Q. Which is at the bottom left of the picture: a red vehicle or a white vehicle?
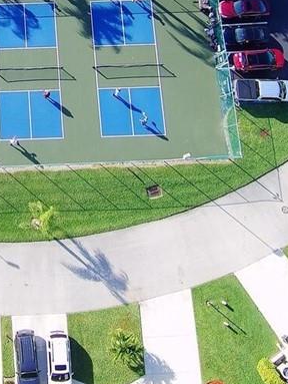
white vehicle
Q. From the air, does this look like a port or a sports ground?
sports ground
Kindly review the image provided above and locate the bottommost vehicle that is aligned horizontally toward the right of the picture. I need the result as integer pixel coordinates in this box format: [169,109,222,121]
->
[232,78,288,103]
